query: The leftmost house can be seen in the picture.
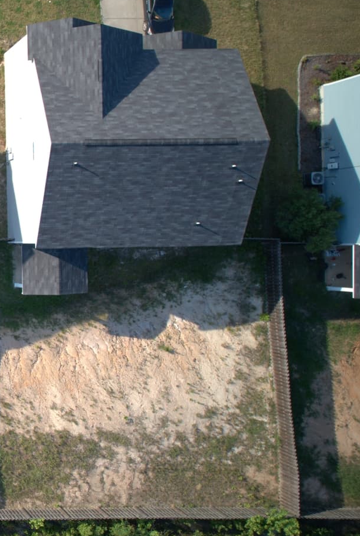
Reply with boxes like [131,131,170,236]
[6,17,269,295]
